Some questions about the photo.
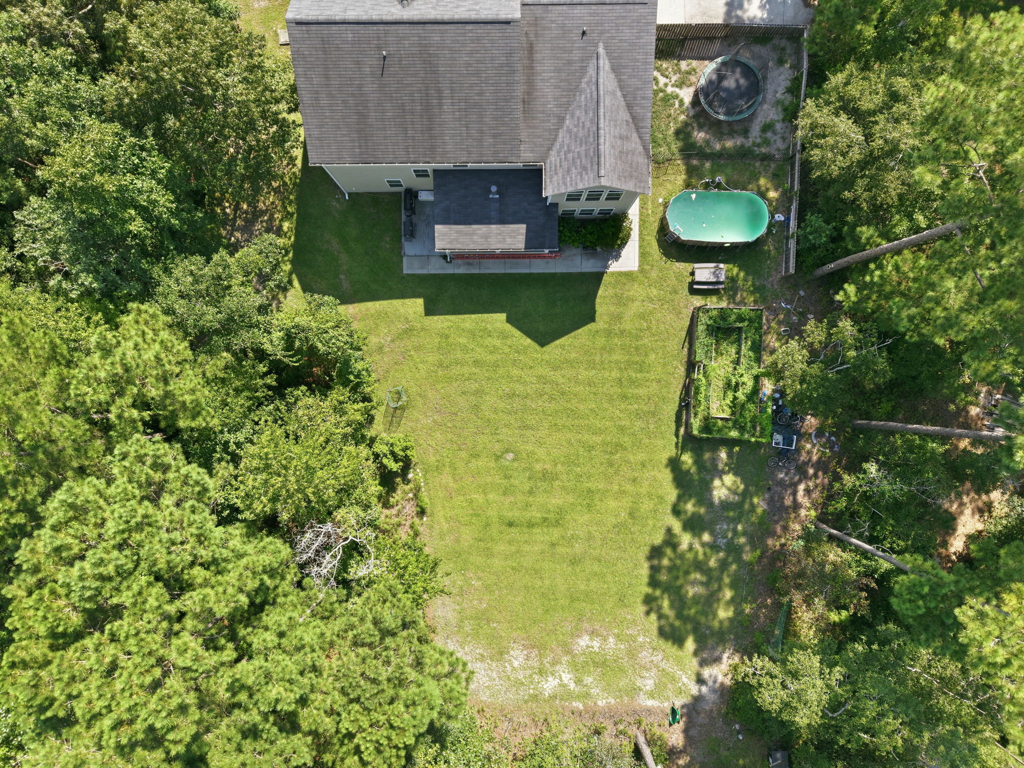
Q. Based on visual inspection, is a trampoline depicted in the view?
Yes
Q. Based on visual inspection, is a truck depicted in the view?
No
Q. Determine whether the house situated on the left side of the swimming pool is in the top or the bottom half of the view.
top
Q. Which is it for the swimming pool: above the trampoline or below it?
below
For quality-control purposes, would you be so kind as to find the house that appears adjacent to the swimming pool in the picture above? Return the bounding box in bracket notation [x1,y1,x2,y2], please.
[287,0,660,269]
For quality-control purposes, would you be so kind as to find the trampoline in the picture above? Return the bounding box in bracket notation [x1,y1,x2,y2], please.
[694,42,770,124]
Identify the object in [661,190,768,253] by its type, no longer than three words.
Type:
swimming pool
